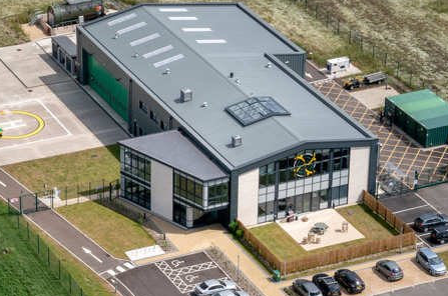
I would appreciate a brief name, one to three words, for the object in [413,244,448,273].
car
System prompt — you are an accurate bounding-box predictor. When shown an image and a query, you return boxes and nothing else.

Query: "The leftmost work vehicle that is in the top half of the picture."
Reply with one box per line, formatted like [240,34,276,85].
[342,67,367,89]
